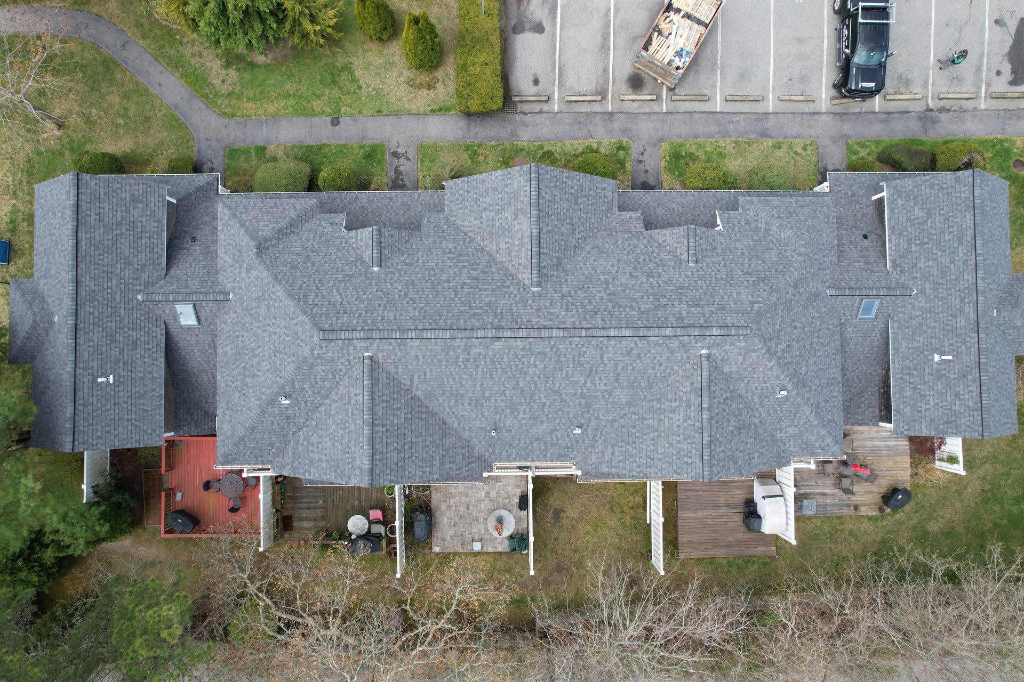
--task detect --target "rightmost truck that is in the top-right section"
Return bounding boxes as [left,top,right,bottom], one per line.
[833,0,898,103]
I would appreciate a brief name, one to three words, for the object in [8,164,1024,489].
building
